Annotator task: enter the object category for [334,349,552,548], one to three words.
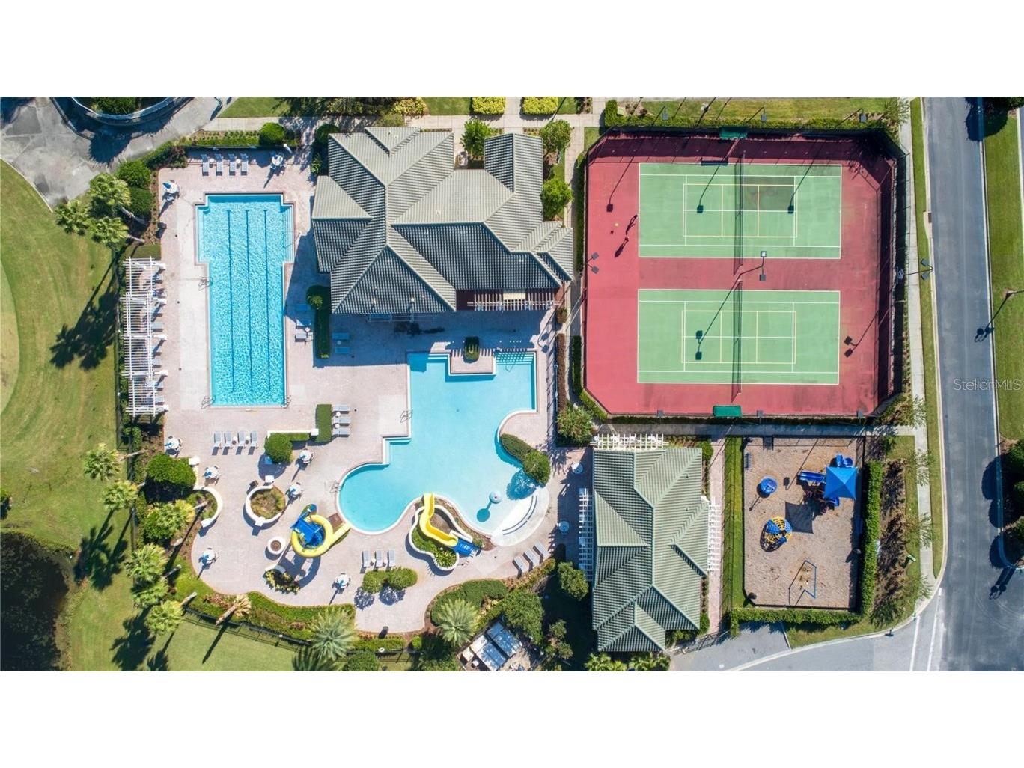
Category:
swimming pool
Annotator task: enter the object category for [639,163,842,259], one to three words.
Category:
tennis court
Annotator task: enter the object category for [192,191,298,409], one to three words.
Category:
swimming pool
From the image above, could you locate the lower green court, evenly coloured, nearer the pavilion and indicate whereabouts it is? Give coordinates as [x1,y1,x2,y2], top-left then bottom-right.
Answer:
[637,289,840,385]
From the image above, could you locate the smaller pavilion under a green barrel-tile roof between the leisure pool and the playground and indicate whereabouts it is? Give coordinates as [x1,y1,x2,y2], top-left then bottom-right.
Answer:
[593,446,710,652]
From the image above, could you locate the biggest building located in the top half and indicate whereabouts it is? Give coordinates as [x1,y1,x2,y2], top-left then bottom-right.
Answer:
[312,124,573,313]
